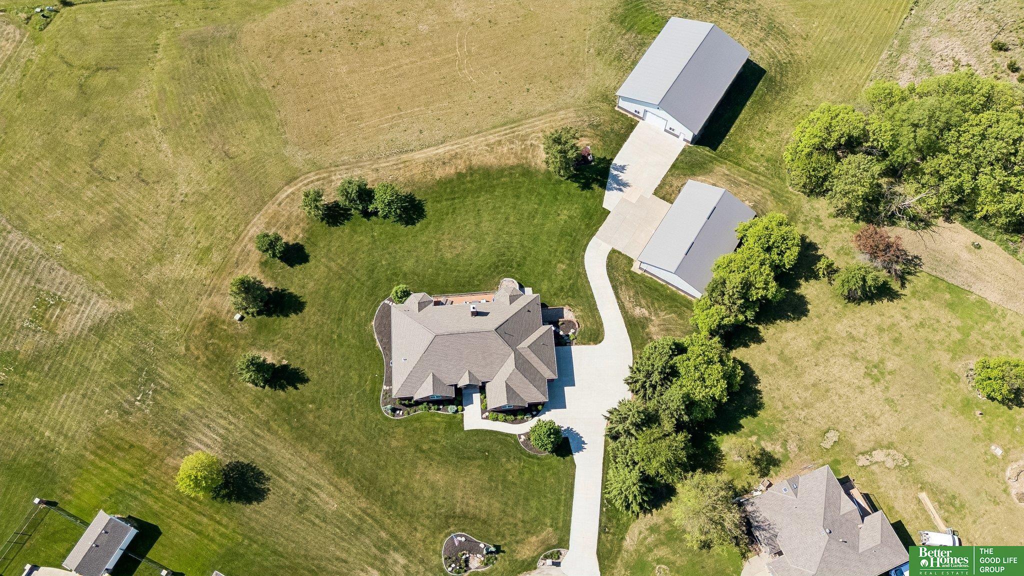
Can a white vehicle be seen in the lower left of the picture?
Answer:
No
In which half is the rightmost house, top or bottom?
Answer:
bottom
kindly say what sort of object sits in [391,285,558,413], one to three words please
house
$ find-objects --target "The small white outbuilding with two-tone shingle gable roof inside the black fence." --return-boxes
[61,509,137,576]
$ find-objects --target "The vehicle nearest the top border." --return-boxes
[917,531,959,557]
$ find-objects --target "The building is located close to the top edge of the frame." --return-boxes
[615,16,749,144]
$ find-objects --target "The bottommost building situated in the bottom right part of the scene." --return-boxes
[742,464,910,576]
